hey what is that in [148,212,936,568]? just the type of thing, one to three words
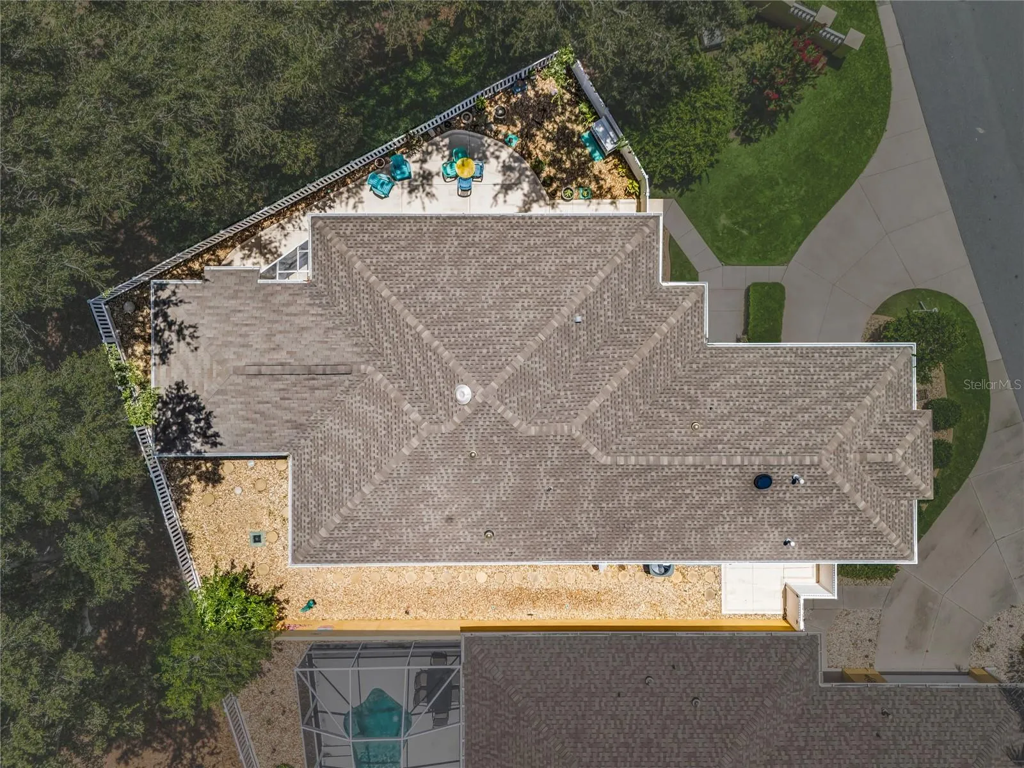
house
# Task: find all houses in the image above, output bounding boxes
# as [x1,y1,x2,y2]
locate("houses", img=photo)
[148,212,936,568]
[458,620,1024,768]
